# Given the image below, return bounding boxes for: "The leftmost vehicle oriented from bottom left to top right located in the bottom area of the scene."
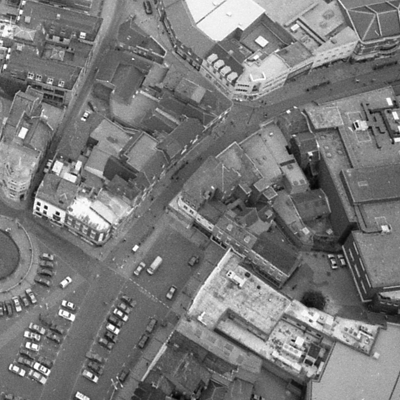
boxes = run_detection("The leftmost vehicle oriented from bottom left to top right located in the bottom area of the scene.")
[58,275,74,289]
